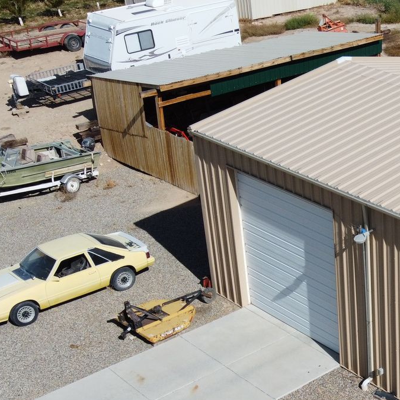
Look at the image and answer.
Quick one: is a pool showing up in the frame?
No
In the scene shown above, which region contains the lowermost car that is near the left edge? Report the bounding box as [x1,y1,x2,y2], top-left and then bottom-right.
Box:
[0,227,156,326]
